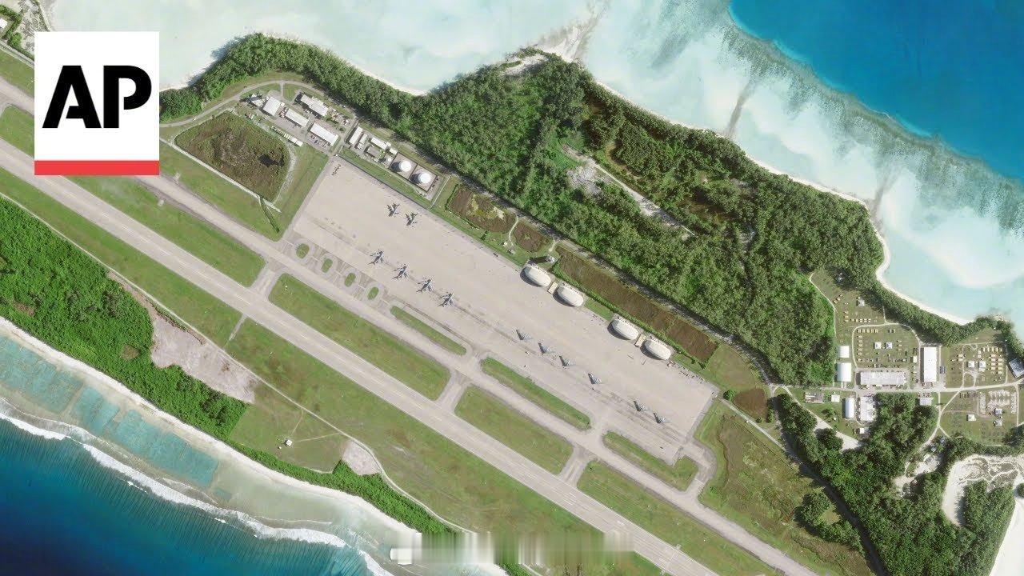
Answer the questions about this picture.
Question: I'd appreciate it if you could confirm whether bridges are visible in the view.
No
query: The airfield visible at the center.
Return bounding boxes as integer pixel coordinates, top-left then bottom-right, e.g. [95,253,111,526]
[0,74,823,576]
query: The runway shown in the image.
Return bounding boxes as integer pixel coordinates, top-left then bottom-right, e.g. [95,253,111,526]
[0,139,716,576]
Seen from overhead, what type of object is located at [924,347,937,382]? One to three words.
building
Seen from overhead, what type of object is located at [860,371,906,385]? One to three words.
building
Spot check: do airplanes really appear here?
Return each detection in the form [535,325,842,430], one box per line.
[588,372,607,384]
[634,399,652,411]
[395,265,408,280]
[387,202,401,217]
[538,341,557,353]
[418,279,432,293]
[406,212,420,227]
[654,411,672,423]
[559,354,578,366]
[370,251,383,265]
[440,293,453,307]
[516,328,535,340]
